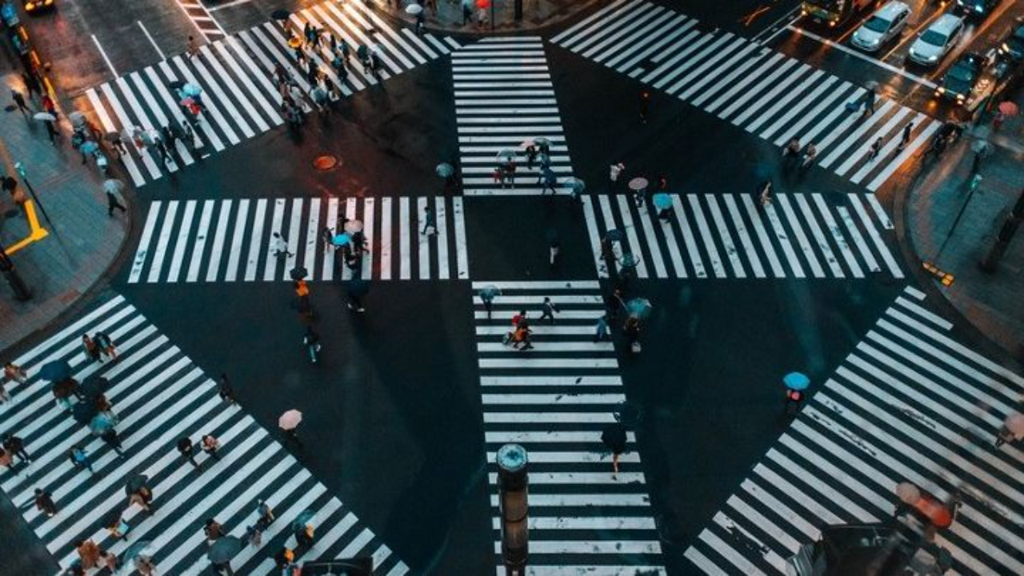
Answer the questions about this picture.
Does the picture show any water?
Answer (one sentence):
No, water can't be seen anywhere here.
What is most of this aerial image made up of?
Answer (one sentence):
The scene is dominated by paved ground.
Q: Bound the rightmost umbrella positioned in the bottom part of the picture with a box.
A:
[998,411,1024,437]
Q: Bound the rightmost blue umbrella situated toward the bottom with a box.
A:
[782,371,807,393]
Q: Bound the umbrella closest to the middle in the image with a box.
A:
[478,281,501,301]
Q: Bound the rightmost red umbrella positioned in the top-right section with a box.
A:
[998,101,1020,118]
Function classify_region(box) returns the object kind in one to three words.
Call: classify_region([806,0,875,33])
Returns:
vehicle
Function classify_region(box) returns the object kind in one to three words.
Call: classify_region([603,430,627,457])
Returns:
umbrella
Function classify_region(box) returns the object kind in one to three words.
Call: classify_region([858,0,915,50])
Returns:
car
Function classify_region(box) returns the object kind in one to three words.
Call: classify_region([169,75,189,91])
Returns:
umbrella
